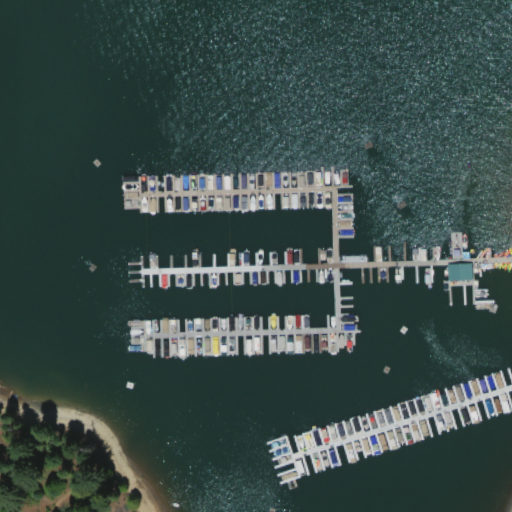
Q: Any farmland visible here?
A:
No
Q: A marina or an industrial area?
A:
marina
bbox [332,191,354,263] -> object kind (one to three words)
pier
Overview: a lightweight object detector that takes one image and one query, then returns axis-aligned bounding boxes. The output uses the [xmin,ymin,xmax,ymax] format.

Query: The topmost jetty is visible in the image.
[124,166,354,213]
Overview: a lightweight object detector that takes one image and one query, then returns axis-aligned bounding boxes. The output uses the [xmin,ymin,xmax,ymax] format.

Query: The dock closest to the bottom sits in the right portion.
[266,369,512,484]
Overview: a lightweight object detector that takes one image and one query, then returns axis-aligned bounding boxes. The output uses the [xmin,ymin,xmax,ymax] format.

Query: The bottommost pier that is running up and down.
[334,268,358,328]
